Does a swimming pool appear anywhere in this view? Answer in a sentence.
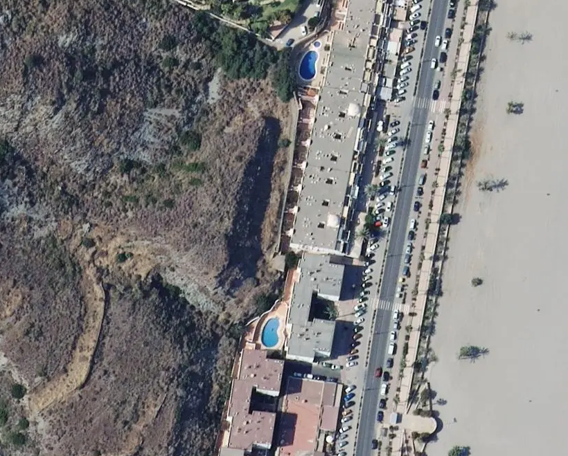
Yes, the photo shows a swimming pool.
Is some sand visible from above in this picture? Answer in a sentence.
Yes, there's sand in this view.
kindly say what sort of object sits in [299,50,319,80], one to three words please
swimming pool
